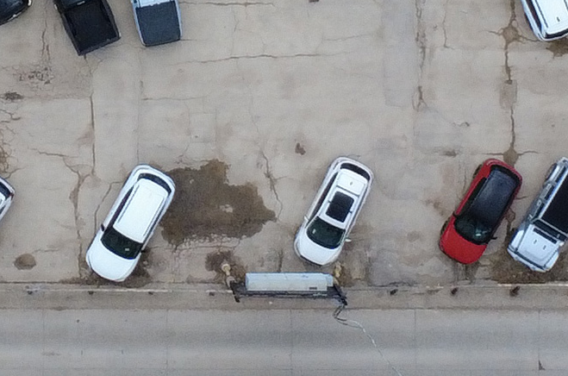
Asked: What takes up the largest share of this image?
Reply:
paved ground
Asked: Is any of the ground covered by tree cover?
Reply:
No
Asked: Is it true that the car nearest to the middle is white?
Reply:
Yes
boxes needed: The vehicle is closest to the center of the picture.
[294,155,372,266]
